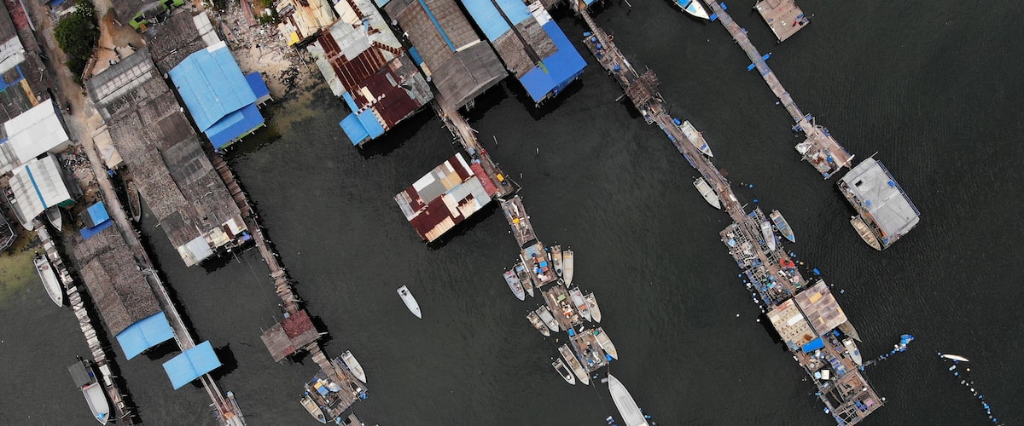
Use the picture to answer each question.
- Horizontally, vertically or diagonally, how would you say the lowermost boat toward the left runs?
diagonally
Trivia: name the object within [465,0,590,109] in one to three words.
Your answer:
house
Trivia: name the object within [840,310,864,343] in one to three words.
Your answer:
boat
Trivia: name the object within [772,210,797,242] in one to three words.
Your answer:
boat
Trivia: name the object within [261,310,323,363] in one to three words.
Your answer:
shed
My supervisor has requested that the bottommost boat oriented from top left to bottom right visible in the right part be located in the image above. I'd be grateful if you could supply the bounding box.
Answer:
[610,376,654,426]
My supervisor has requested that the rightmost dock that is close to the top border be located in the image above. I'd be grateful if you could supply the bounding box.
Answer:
[707,0,810,134]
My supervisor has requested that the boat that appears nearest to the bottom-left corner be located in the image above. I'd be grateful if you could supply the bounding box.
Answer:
[69,359,105,425]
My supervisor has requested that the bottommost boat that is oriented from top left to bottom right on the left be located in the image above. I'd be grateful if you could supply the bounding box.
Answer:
[300,396,326,425]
